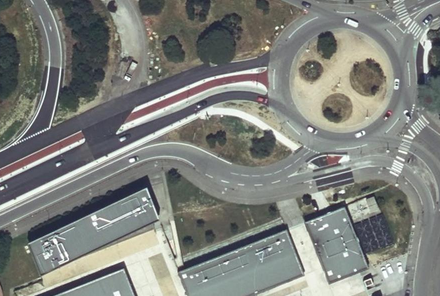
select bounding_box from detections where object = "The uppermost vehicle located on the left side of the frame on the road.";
[125,62,137,80]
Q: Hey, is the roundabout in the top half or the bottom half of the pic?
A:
top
